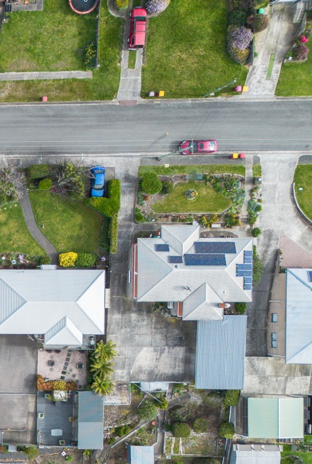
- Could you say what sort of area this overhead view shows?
residential area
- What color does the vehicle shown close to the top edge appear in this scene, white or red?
red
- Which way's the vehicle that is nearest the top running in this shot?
vertically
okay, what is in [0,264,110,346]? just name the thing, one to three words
house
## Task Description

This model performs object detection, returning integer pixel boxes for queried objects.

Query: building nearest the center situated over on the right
[129,225,254,321]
